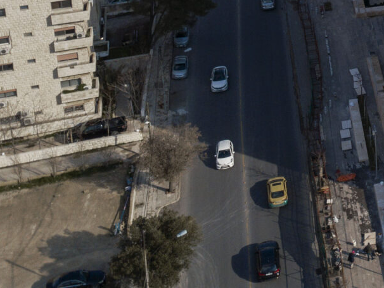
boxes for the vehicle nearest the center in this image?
[212,131,237,168]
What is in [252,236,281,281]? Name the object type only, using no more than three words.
car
